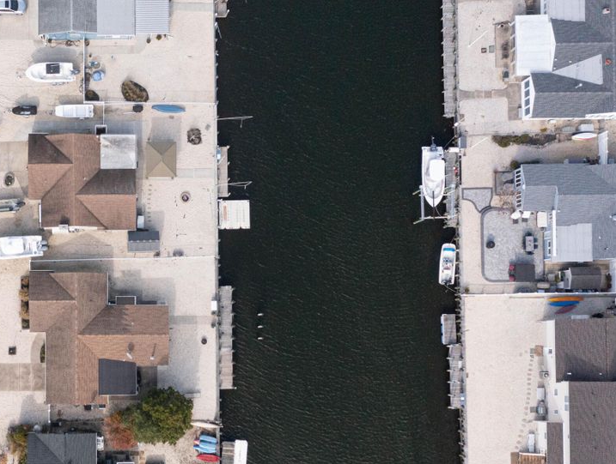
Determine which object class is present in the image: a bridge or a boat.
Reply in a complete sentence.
I can see a boat in this picture.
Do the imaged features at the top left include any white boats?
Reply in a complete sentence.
Yes, you'll find a white boat at the top left.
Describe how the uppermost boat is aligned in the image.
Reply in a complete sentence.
In this picture, the uppermost boat lies from left to right.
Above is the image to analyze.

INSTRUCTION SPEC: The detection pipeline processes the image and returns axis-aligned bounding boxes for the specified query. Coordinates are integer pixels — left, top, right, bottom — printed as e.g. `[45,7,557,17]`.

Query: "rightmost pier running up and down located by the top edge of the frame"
[438,0,456,117]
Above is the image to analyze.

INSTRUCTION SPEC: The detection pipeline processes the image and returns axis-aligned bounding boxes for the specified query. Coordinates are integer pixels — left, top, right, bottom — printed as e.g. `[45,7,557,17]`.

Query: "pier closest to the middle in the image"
[218,199,249,229]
